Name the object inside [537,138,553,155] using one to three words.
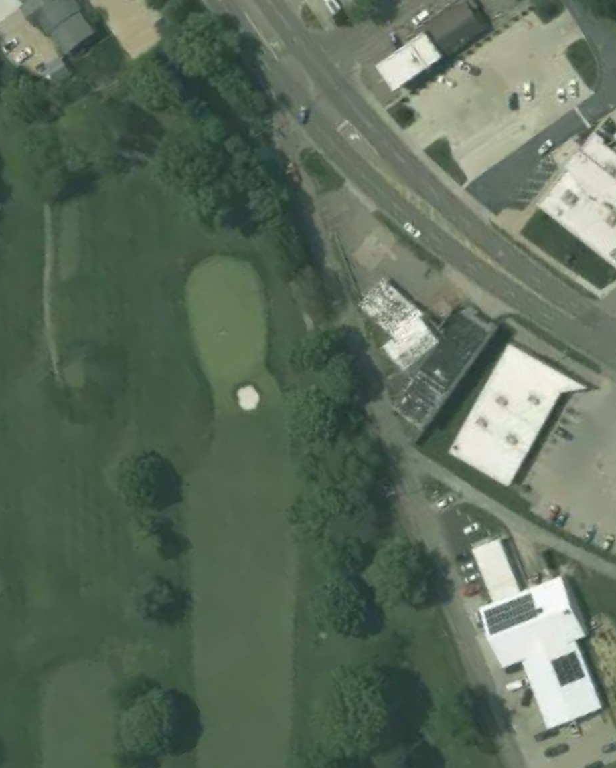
car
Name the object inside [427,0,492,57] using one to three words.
building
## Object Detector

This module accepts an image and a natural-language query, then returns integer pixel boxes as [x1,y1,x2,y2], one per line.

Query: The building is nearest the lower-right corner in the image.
[473,538,520,600]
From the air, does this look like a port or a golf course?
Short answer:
golf course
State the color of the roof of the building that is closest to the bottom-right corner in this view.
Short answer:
white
